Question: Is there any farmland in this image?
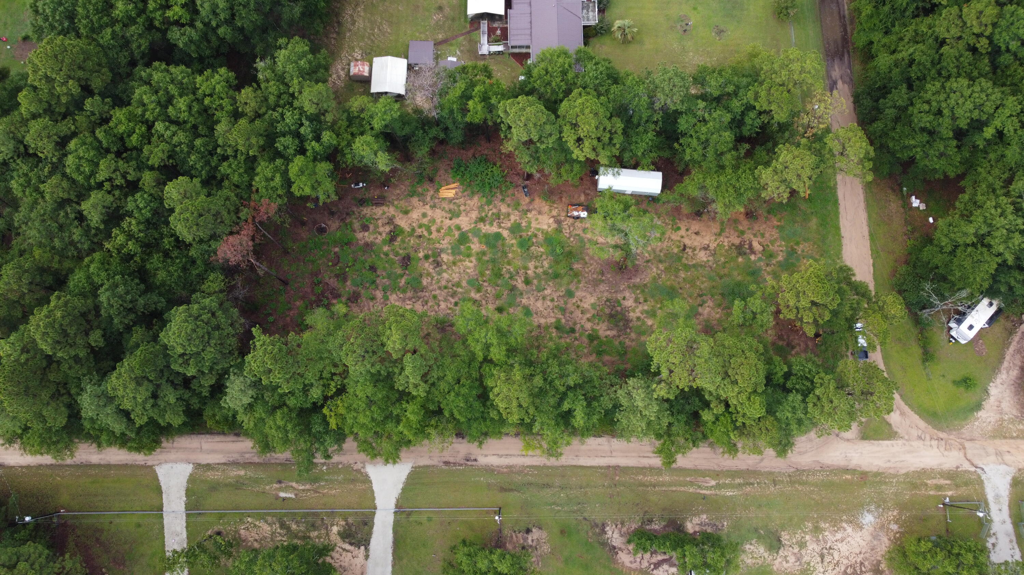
No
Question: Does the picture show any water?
No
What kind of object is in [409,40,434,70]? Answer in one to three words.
shed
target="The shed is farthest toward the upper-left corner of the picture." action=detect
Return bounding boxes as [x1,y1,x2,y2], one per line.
[351,61,372,80]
